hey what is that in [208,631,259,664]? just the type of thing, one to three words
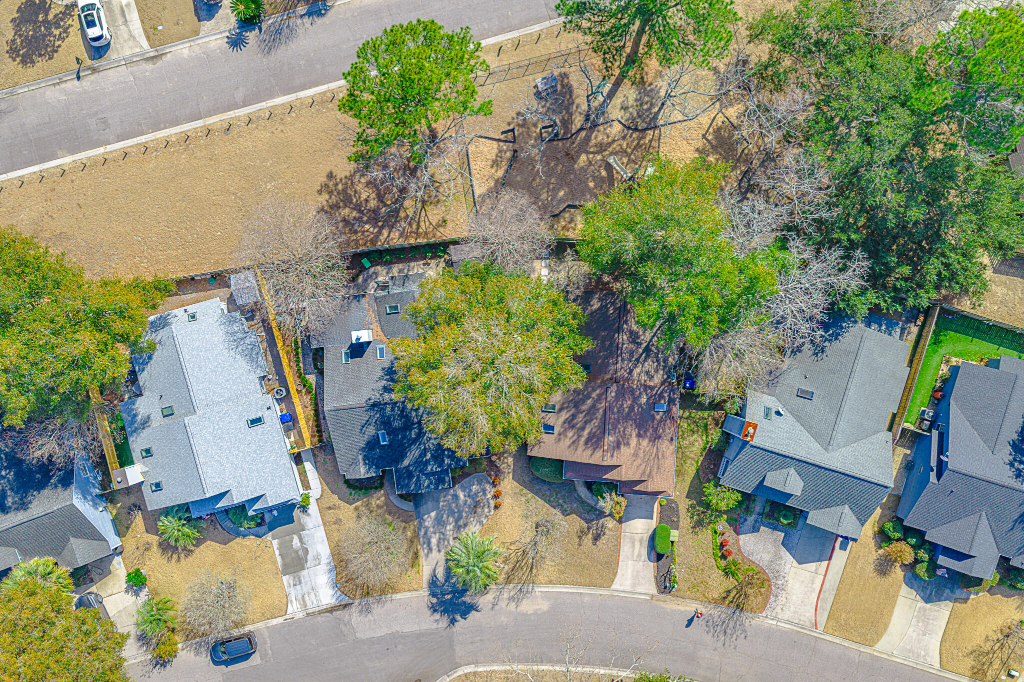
car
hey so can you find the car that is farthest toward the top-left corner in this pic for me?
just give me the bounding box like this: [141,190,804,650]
[78,0,113,44]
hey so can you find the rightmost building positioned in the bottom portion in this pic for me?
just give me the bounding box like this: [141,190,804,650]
[895,355,1024,580]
